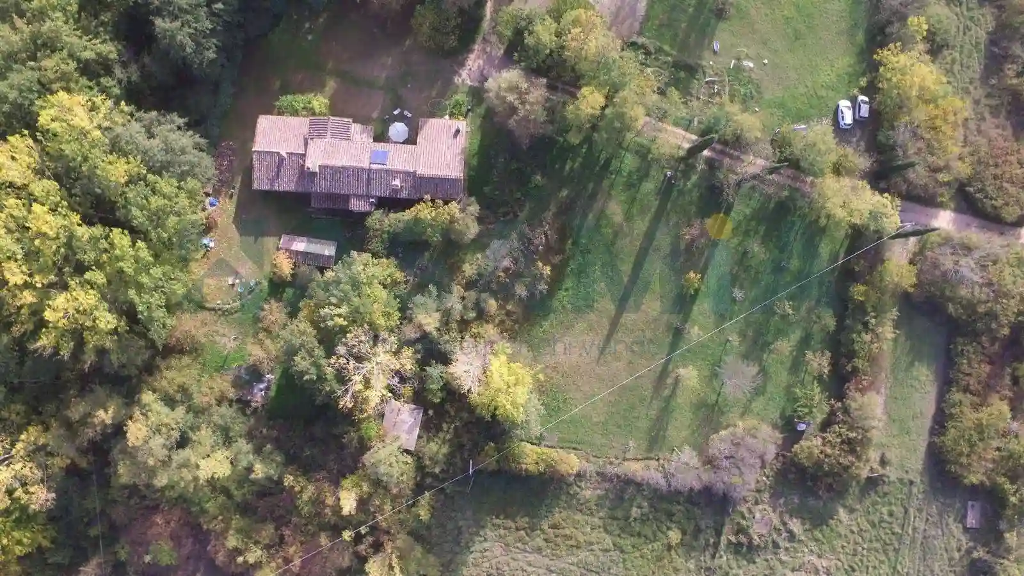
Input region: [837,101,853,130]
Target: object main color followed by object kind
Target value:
white car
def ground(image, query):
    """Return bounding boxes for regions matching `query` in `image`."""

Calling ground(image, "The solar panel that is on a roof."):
[370,149,389,167]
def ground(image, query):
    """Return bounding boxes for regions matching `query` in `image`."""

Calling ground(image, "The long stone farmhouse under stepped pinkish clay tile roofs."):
[252,114,468,214]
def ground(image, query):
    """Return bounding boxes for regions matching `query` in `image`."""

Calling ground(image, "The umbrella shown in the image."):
[389,123,408,142]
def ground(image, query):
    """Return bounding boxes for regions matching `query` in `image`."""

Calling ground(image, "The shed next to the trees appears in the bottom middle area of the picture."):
[381,399,426,450]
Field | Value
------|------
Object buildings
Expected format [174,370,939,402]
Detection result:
[280,235,339,267]
[252,114,468,214]
[381,399,426,450]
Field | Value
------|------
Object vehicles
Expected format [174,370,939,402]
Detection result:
[837,101,853,130]
[854,96,869,121]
